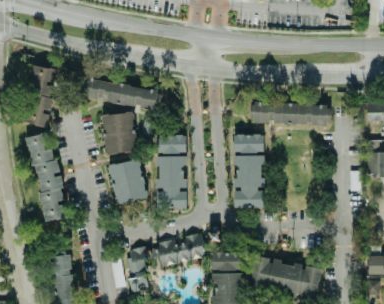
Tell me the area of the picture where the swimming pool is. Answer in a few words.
bottom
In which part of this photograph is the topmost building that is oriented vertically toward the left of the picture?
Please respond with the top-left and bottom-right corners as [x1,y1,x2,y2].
[26,66,57,128]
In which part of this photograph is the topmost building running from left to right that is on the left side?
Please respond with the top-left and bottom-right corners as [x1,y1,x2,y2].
[88,78,162,110]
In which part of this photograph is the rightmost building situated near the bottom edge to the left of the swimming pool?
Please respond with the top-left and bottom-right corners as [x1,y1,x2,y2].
[128,248,149,293]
